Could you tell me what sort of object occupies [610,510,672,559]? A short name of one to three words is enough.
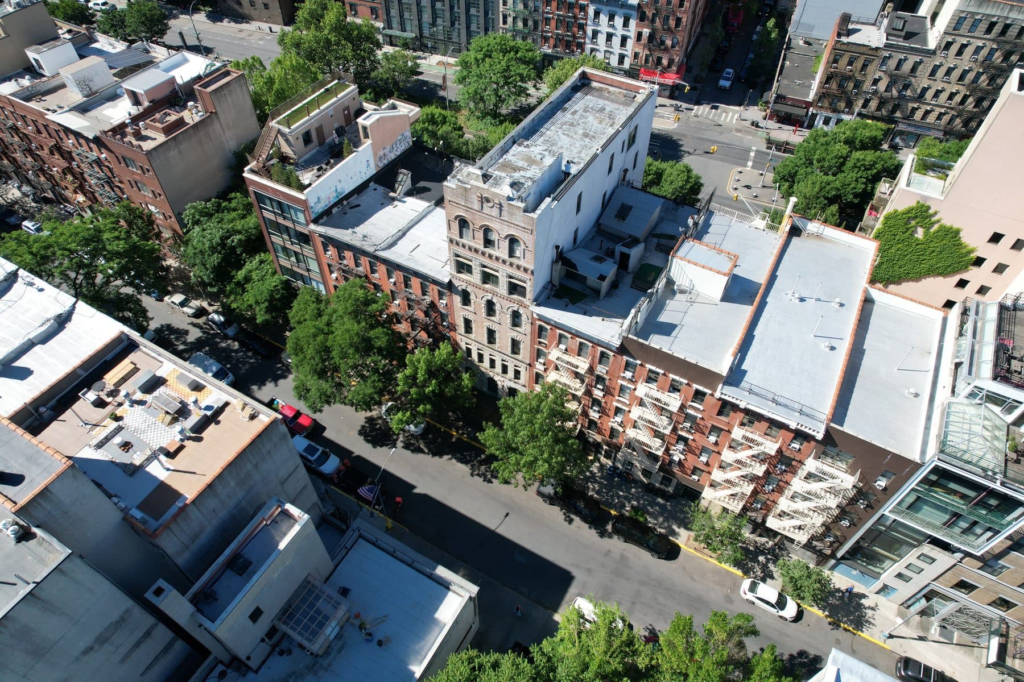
car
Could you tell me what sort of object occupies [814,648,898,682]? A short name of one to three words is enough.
truck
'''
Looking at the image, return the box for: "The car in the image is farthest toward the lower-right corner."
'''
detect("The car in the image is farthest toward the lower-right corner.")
[889,651,957,682]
